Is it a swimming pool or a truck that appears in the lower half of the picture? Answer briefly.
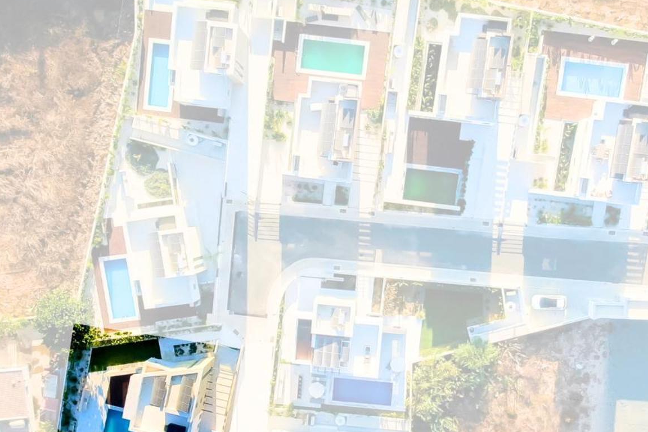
swimming pool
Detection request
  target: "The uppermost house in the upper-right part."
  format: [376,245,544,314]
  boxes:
[437,13,512,128]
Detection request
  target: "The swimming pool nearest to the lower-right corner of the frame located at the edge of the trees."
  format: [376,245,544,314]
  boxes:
[327,374,396,407]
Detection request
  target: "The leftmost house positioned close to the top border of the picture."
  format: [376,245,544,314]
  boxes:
[169,2,249,115]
